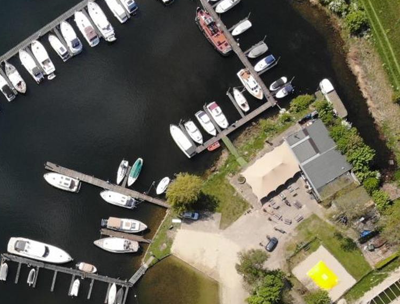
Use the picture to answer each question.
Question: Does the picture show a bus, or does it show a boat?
boat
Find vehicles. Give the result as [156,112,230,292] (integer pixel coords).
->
[181,212,199,220]
[263,236,278,253]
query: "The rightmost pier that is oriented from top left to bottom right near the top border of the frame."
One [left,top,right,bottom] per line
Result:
[202,0,279,107]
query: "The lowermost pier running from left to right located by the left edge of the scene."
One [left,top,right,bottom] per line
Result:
[2,251,134,289]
